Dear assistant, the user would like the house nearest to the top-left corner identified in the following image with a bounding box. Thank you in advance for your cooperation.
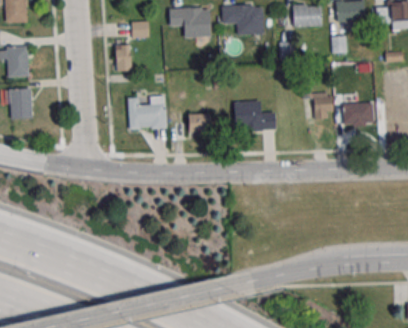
[5,0,28,23]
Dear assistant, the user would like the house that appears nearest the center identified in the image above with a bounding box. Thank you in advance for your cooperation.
[189,114,214,134]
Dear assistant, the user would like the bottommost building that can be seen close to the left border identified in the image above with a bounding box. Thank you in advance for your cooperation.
[10,88,32,120]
